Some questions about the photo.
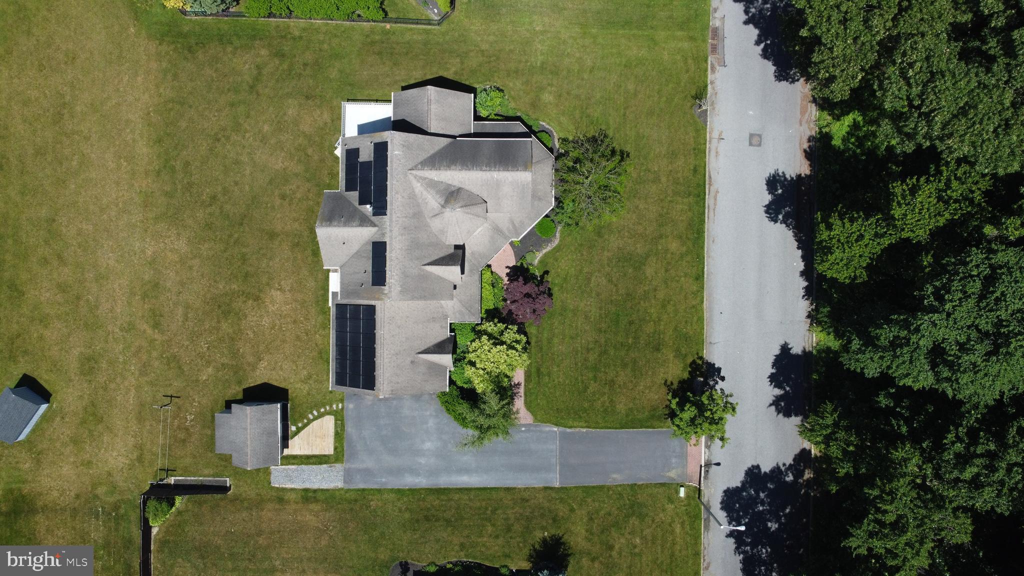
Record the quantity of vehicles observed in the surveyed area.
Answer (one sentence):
The photo contains no vehicles.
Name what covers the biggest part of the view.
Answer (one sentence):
What you mostly see from above here is grass.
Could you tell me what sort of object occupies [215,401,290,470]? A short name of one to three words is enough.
shed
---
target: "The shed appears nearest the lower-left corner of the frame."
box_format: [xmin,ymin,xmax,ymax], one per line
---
[0,383,51,444]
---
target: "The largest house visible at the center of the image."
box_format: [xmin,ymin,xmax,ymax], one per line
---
[316,85,555,397]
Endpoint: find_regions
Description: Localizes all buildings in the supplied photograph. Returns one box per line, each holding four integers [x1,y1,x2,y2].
[0,383,51,444]
[316,85,555,397]
[215,401,290,470]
